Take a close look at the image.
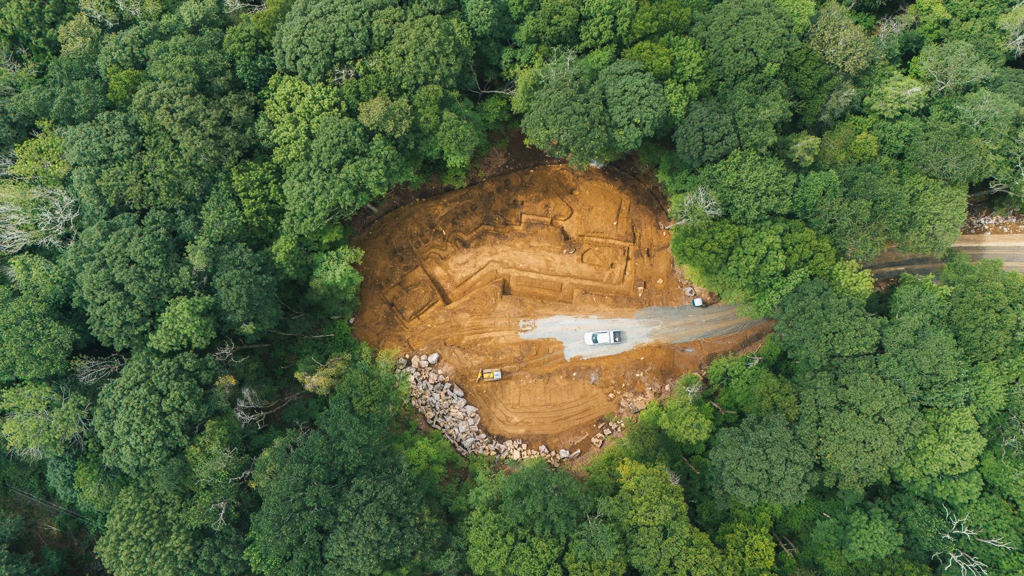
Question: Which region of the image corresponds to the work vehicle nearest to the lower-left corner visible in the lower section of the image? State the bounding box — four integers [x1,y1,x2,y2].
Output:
[477,368,502,384]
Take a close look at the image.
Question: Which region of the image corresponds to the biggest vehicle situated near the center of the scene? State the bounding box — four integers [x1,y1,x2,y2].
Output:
[584,329,623,345]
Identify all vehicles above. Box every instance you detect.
[584,329,623,345]
[477,368,502,384]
